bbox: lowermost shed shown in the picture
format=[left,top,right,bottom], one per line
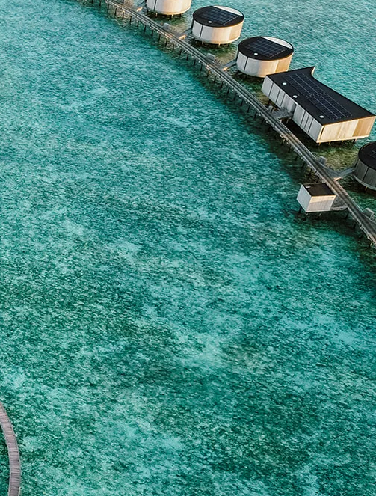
[293,182,334,228]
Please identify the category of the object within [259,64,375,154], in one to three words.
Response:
house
